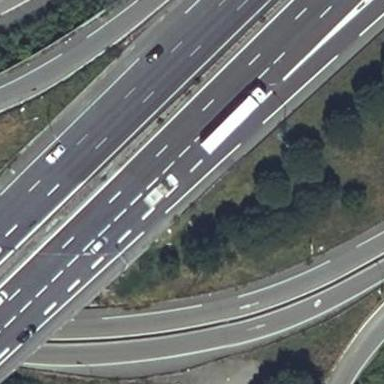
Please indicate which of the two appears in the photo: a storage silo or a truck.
truck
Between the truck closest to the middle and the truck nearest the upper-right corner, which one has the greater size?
the truck nearest the upper-right corner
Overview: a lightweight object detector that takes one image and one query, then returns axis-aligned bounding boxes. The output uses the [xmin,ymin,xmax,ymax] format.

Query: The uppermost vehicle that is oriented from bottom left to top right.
[144,43,164,62]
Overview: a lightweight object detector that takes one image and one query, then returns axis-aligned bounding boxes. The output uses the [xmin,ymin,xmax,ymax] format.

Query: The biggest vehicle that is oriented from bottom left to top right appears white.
[200,88,268,155]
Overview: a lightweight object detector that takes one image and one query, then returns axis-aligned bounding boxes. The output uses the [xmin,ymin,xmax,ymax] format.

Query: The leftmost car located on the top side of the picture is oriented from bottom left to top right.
[46,144,65,162]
